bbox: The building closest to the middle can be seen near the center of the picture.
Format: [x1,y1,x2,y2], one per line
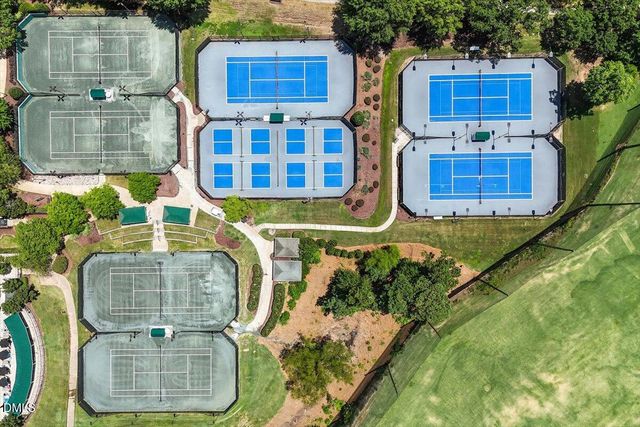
[274,238,300,258]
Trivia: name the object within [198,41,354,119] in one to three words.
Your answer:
tennis court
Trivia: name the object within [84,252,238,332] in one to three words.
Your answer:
tennis court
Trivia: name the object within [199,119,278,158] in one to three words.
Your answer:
sports court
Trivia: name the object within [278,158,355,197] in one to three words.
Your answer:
sports court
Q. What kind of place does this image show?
sports ground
